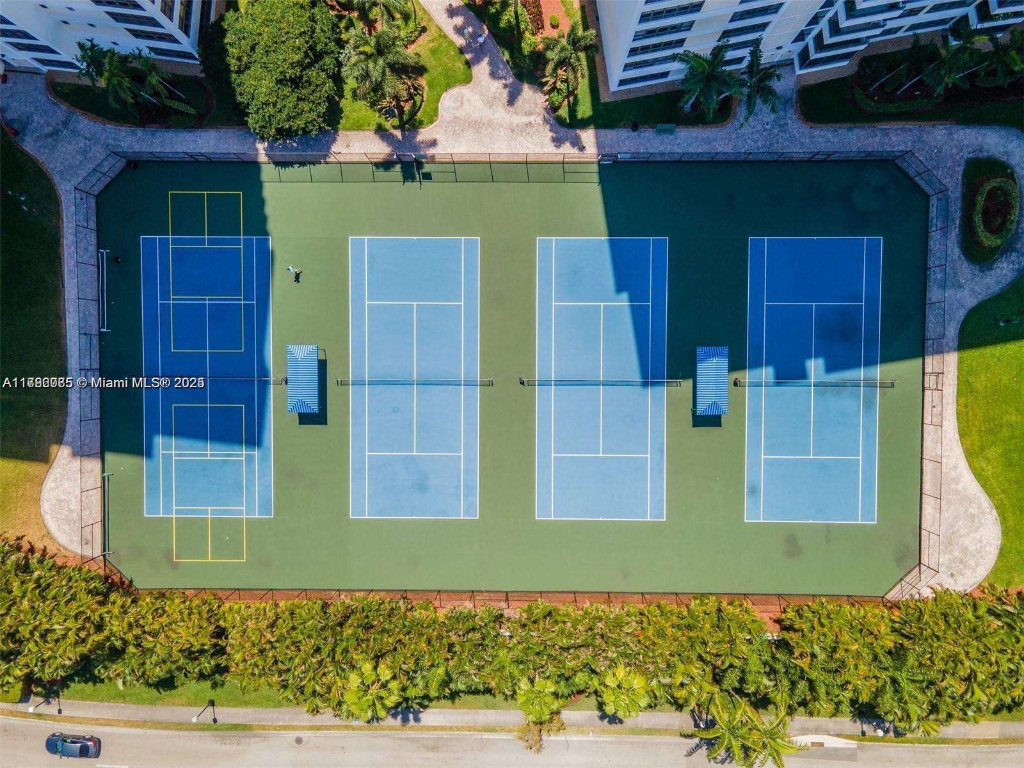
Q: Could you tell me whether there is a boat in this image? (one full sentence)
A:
No, the photo shows no boat.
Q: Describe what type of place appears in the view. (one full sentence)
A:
The area seen from above is a sports ground.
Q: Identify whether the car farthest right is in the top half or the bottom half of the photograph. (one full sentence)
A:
It is in the bottom half that the car farthest right appears.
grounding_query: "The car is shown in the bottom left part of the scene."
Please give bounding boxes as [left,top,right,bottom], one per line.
[47,730,99,758]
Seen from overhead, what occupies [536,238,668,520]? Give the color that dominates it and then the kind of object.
blue tennis court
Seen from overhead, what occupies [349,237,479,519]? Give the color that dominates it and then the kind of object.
blue tennis court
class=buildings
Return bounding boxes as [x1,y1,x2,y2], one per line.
[0,0,215,74]
[596,0,1024,91]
